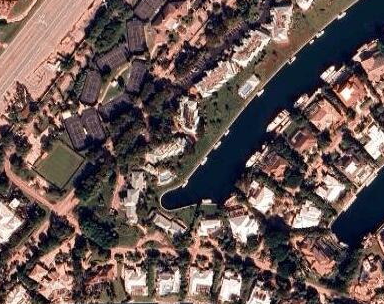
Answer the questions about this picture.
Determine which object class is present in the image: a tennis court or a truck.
tennis court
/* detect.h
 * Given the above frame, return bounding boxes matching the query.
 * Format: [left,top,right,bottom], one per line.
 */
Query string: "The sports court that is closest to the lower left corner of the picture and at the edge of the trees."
[32,140,85,188]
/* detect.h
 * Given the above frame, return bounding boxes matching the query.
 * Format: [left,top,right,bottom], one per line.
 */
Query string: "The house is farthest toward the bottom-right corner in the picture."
[344,259,383,302]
